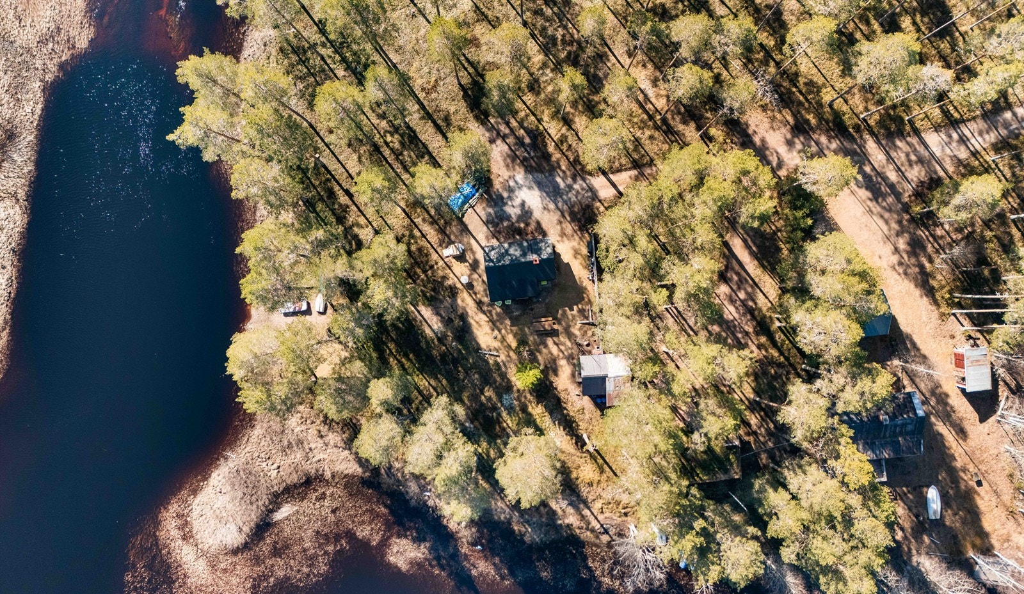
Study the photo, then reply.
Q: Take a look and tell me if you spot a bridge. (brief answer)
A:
No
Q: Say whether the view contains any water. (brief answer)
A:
Yes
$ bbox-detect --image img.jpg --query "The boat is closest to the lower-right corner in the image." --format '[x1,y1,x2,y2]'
[925,484,939,520]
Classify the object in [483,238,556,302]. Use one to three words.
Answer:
building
